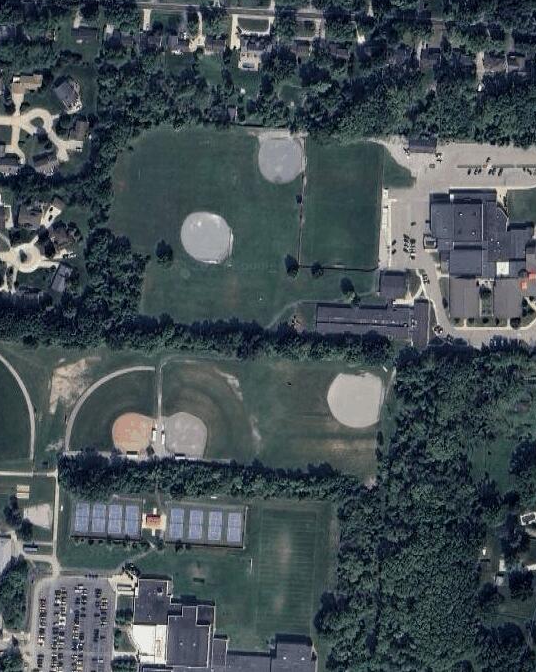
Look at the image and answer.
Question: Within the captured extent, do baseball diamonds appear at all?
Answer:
Yes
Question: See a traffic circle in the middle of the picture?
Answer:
No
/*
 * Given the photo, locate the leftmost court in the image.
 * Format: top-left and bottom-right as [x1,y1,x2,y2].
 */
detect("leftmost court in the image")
[24,503,52,527]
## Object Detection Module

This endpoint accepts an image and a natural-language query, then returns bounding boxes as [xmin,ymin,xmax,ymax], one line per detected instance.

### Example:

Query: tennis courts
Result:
[108,504,122,533]
[75,503,89,532]
[227,513,241,542]
[125,505,139,534]
[92,503,105,532]
[189,510,203,539]
[171,509,185,538]
[208,511,222,540]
